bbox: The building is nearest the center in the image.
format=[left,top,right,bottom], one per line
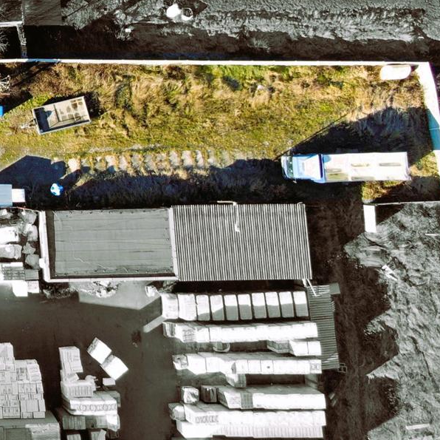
[159,201,315,296]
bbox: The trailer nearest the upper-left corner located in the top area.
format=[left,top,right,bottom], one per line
[24,95,95,136]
